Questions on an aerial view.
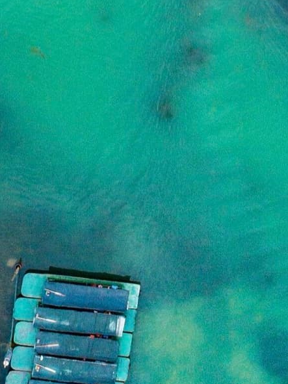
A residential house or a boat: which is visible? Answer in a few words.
boat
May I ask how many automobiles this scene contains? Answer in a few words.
none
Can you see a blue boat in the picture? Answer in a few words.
Yes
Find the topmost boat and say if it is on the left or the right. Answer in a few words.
left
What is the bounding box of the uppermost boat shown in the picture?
[21,274,140,310]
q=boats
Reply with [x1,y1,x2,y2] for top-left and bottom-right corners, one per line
[5,371,126,384]
[21,274,140,310]
[13,322,133,359]
[11,346,131,384]
[13,297,138,335]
